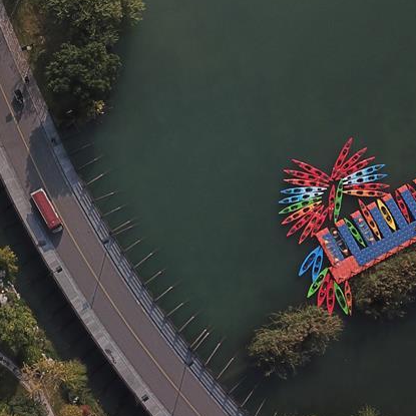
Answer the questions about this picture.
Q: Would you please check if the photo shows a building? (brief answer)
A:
No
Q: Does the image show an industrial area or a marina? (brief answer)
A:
marina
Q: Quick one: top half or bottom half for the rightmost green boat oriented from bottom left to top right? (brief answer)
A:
bottom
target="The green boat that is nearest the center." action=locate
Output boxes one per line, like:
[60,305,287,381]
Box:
[280,198,321,213]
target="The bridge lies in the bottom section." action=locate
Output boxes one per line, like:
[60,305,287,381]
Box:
[0,128,255,416]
